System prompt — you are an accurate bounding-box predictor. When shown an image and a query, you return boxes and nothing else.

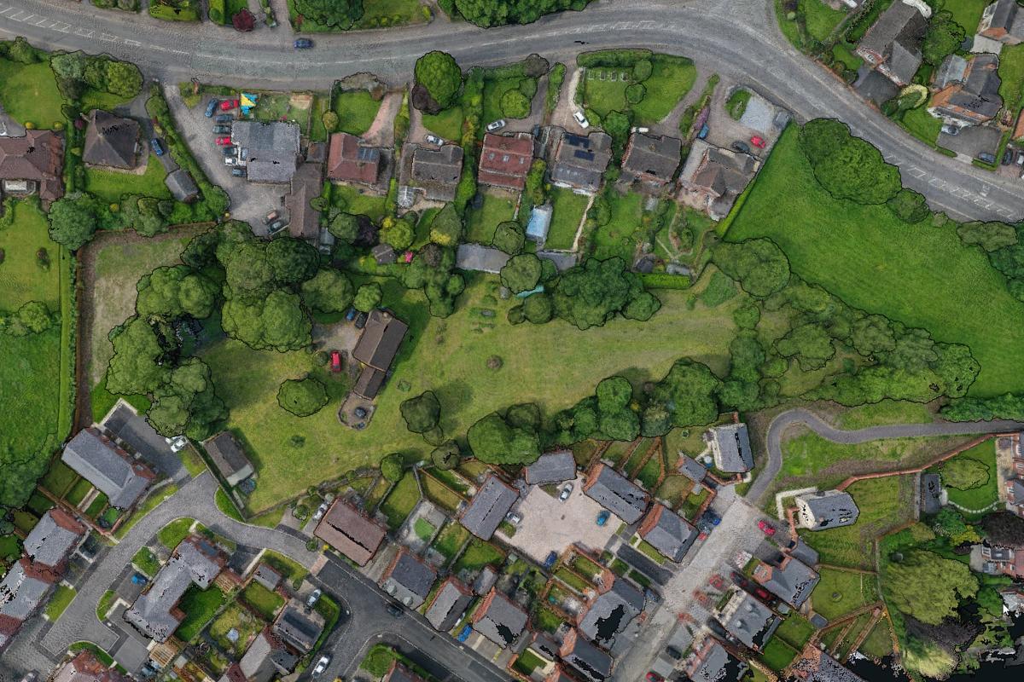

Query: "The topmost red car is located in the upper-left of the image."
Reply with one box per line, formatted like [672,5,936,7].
[220,97,240,110]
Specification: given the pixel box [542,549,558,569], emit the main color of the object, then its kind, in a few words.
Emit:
blue car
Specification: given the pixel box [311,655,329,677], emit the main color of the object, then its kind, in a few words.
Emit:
white car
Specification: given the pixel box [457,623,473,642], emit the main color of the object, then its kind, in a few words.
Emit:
blue car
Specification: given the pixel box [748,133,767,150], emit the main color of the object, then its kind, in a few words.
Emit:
red car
